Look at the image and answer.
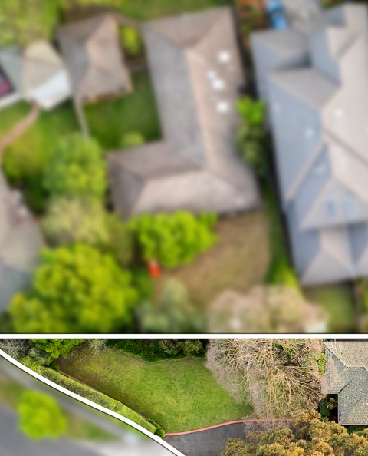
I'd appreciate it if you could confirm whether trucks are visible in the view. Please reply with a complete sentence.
No, the picture doesn't show any truck.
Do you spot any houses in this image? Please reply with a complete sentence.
Yes, there's a house here.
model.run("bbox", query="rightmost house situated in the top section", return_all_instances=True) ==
[249,1,368,286]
